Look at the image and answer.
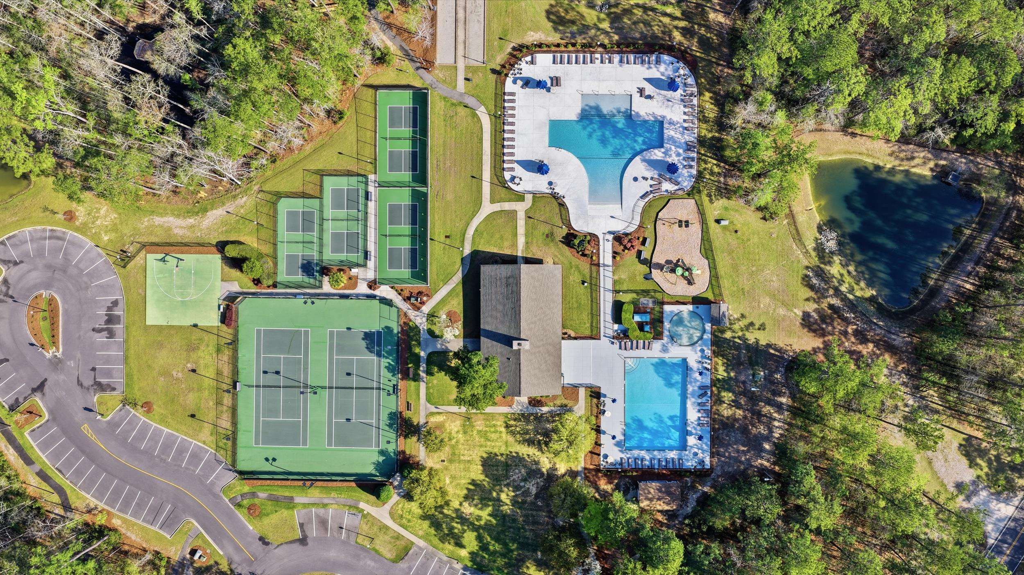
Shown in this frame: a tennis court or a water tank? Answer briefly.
tennis court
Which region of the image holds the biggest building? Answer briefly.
center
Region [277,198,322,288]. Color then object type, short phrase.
green sports court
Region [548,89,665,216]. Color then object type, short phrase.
blue swimming pool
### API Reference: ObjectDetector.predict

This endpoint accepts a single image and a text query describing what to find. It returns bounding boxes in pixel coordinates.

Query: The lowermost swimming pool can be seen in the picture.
[618,354,689,452]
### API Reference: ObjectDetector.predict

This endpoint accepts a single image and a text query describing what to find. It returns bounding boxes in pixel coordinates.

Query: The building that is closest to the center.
[480,264,562,398]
